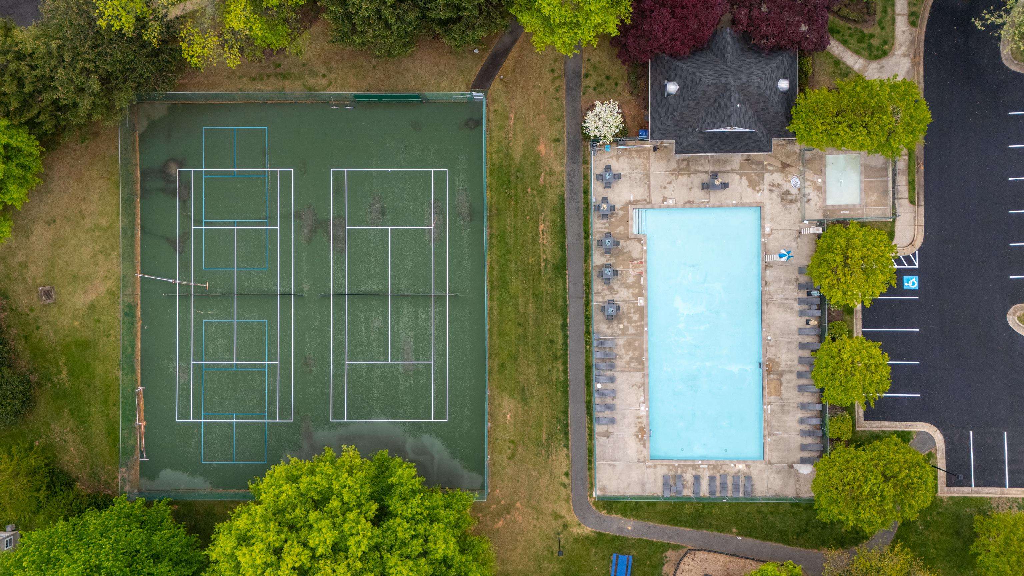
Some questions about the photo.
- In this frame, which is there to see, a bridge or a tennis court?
tennis court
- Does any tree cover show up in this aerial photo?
Yes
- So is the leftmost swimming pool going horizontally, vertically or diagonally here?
vertically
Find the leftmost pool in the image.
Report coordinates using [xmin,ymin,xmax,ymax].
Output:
[630,195,782,469]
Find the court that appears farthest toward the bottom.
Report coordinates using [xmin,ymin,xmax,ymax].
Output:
[202,321,267,463]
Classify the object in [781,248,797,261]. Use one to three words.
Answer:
umbrella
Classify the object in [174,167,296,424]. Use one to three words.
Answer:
tennis court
